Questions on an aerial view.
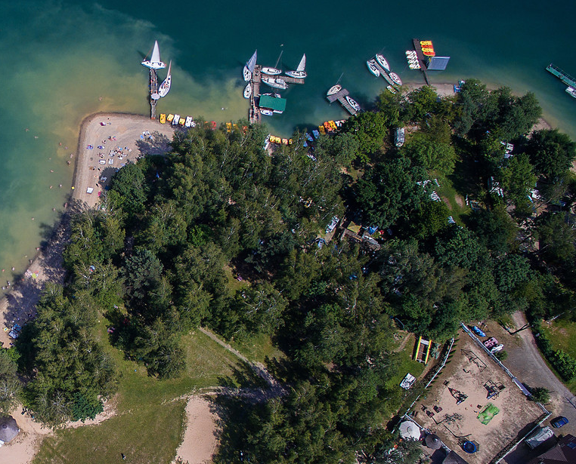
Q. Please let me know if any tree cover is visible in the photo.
Yes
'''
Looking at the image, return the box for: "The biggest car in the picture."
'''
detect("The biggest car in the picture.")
[551,416,570,429]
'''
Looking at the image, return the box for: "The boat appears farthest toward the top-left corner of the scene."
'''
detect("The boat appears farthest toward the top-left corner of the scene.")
[142,43,166,68]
